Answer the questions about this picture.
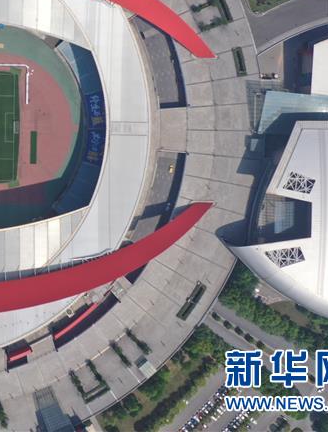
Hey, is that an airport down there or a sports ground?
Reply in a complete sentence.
The picture captures a sports ground.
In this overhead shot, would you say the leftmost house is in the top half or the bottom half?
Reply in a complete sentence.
The leftmost house is in the bottom half of the image.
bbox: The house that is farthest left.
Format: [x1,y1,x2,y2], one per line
[33,385,75,432]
